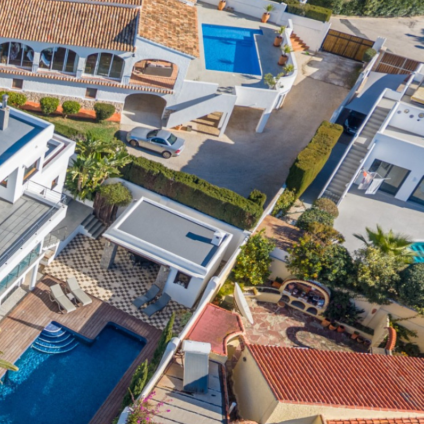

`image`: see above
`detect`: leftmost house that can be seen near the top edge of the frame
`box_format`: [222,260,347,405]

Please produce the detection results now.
[0,0,203,118]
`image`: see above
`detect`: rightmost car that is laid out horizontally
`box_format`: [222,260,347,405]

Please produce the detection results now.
[129,132,185,159]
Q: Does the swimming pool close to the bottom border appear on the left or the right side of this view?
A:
left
